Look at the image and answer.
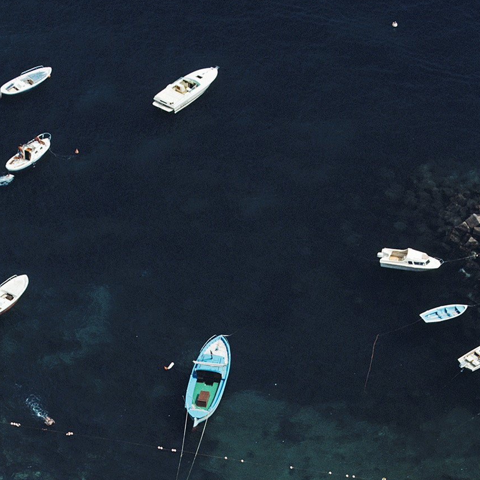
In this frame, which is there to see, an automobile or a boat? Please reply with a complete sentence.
Visible in the photo is a boat.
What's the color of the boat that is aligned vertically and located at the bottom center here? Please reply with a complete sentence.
The boat that is aligned vertically and located at the bottom center looks blue in the image.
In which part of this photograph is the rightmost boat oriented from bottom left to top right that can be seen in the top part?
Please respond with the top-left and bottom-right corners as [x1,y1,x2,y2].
[149,67,221,123]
